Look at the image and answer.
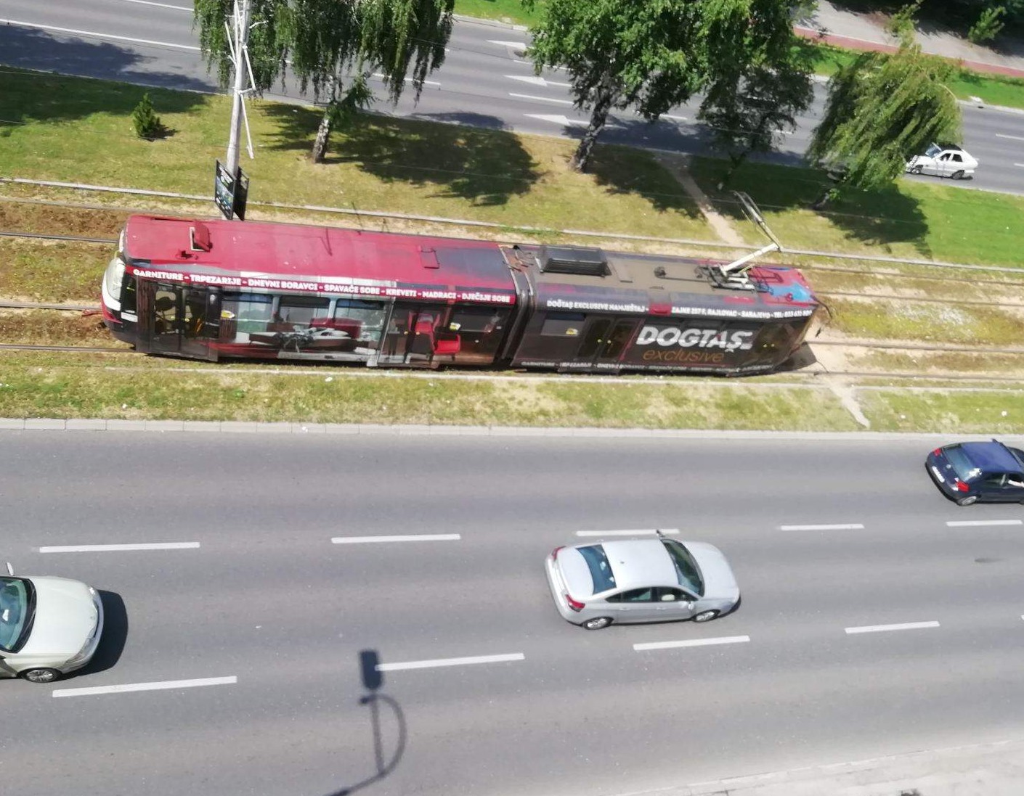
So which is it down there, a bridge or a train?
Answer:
train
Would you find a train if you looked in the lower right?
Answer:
No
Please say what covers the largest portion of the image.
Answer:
paved ground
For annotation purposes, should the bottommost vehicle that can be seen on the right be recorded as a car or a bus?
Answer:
car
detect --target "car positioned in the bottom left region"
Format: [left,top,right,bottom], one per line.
[0,562,104,683]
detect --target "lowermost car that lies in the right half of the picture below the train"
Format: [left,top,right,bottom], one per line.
[551,531,743,630]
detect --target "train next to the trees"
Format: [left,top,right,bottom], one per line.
[80,192,821,375]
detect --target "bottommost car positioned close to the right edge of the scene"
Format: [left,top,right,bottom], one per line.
[930,436,1024,504]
